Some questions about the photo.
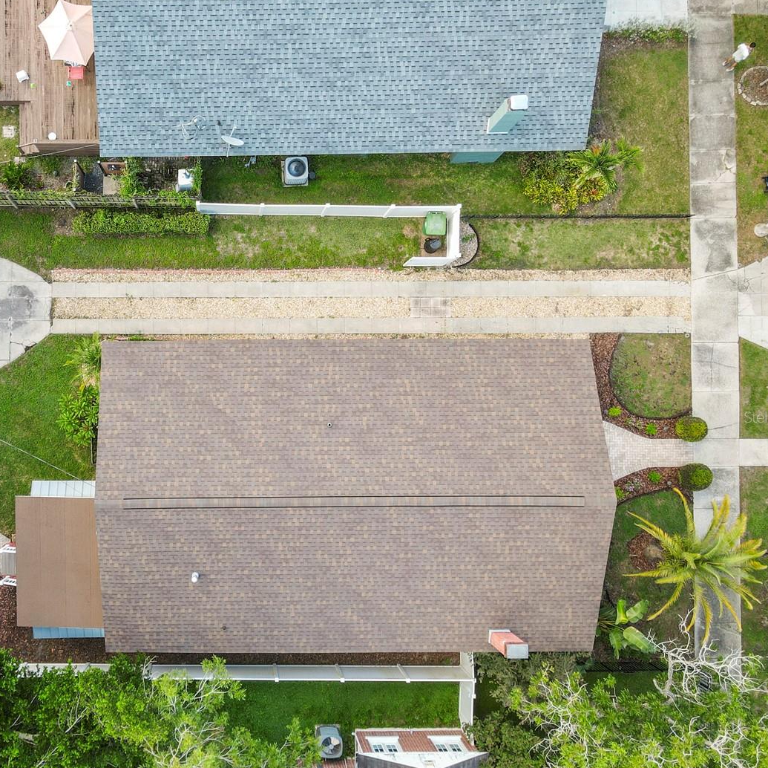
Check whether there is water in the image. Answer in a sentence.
No, there is no water in the image.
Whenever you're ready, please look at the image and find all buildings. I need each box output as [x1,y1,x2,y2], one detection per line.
[305,725,495,768]
[15,333,618,660]
[90,0,609,164]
